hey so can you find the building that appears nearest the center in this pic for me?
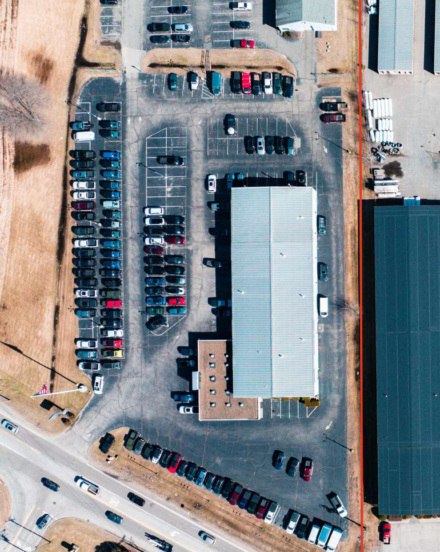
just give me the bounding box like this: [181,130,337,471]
[192,187,318,420]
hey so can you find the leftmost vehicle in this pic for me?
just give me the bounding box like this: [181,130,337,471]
[1,419,20,433]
